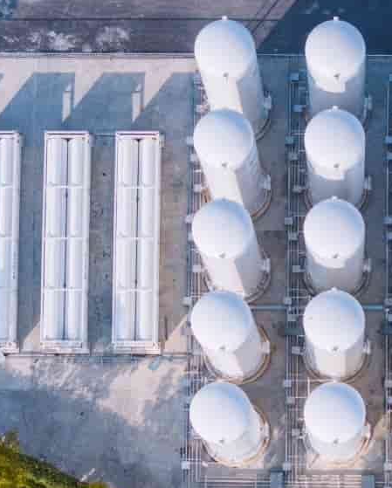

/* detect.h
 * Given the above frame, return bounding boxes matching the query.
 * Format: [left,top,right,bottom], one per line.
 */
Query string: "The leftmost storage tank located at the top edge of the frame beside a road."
[194,16,272,136]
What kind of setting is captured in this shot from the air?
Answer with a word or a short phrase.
industrial area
